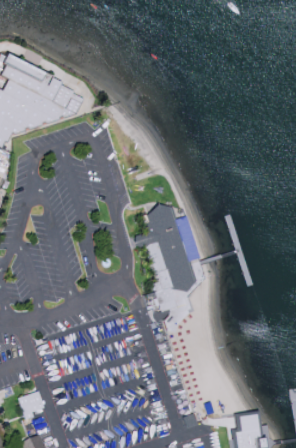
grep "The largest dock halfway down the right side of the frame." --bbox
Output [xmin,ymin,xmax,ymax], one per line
[225,214,252,288]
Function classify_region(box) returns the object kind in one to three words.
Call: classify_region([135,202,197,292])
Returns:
building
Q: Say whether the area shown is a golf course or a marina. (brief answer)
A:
marina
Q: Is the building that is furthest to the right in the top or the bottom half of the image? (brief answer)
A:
bottom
